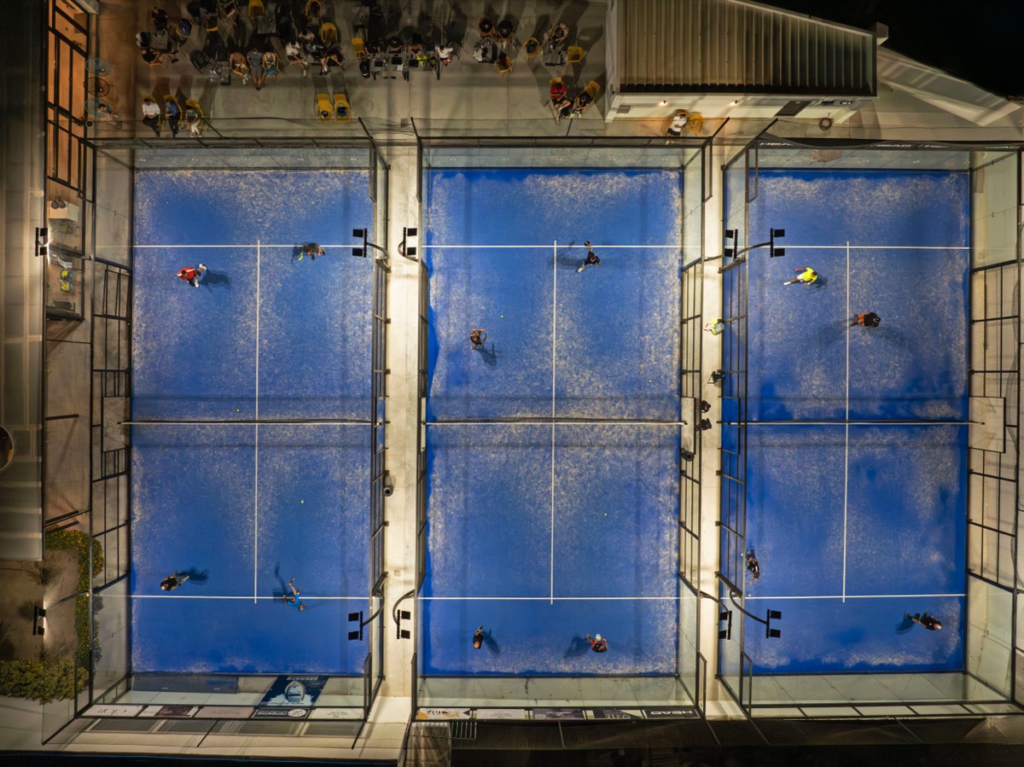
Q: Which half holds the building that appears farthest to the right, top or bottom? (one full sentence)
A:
You can find the building that appears farthest to the right in the top half.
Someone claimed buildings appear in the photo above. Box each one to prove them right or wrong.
[602,0,891,127]
[0,0,85,564]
